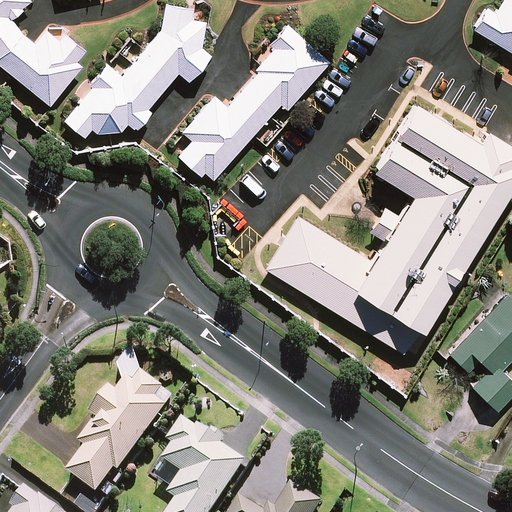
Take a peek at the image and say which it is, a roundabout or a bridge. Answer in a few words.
roundabout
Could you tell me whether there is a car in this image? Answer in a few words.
Yes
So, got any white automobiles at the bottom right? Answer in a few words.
No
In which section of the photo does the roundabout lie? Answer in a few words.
left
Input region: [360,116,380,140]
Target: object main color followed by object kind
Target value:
black car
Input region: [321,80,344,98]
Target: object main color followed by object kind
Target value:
white car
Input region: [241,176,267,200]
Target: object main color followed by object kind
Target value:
white vehicle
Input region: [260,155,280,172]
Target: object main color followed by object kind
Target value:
white car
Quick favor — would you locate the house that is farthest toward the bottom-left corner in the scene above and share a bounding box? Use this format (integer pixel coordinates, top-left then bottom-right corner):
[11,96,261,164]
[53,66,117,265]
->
[3,482,66,512]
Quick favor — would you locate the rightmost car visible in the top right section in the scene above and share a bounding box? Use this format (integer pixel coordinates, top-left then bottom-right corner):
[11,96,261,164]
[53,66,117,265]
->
[475,106,492,128]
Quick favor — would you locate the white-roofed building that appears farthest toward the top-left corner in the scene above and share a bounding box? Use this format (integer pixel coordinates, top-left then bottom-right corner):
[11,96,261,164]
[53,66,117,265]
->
[0,0,86,106]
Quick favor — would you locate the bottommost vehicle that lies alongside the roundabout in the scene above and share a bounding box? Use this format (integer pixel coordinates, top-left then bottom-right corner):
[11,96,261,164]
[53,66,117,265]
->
[73,264,96,284]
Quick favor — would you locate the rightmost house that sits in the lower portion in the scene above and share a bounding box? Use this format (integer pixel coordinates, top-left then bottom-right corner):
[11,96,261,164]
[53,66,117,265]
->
[448,294,512,412]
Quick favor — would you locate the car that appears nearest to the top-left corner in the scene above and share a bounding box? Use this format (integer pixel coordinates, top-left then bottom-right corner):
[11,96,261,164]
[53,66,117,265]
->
[26,209,48,230]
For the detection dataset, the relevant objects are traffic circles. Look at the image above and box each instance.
[81,216,144,278]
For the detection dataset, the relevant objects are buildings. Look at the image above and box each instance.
[159,414,246,512]
[178,24,326,181]
[358,104,512,337]
[0,0,86,106]
[3,482,66,512]
[448,294,512,412]
[64,4,212,138]
[71,492,99,512]
[471,0,512,57]
[226,480,322,512]
[66,368,166,490]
